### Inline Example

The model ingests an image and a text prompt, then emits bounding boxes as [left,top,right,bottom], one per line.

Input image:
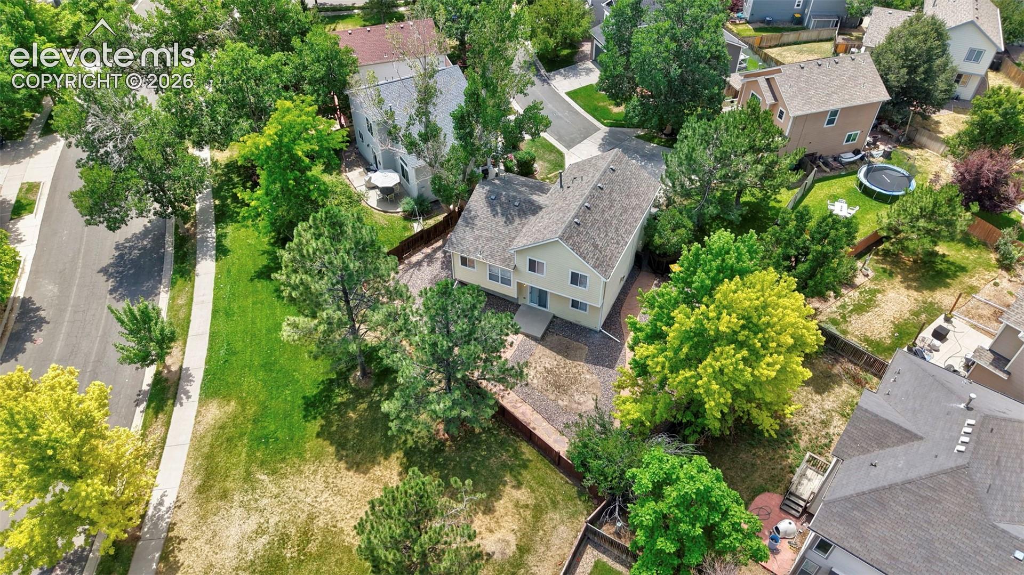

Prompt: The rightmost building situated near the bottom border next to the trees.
[793,346,1024,575]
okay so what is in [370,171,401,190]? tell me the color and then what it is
white umbrella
